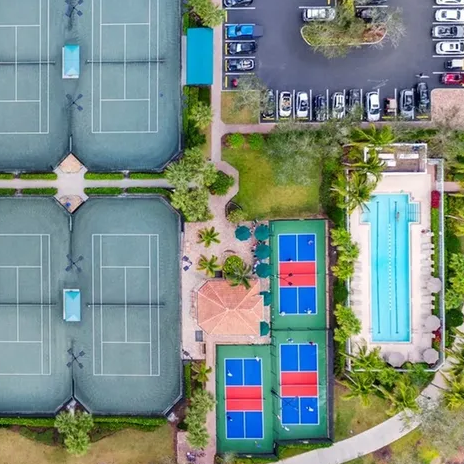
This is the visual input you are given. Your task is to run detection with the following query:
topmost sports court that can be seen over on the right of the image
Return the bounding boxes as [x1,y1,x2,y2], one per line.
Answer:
[270,221,327,330]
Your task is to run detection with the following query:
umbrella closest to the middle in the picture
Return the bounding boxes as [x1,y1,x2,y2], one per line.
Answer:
[235,225,251,241]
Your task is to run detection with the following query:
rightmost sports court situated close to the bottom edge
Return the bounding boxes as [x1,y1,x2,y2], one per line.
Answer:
[270,330,329,443]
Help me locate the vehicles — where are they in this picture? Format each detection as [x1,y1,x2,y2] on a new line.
[331,91,347,119]
[440,71,464,85]
[366,92,382,120]
[262,91,277,119]
[228,24,264,37]
[438,41,464,54]
[437,0,464,5]
[314,92,329,120]
[415,84,432,112]
[296,90,310,119]
[400,90,416,119]
[224,0,252,6]
[382,100,401,109]
[227,58,256,71]
[433,24,464,38]
[445,59,464,68]
[279,91,292,117]
[304,7,334,21]
[227,41,257,54]
[436,8,464,22]
[347,89,363,117]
